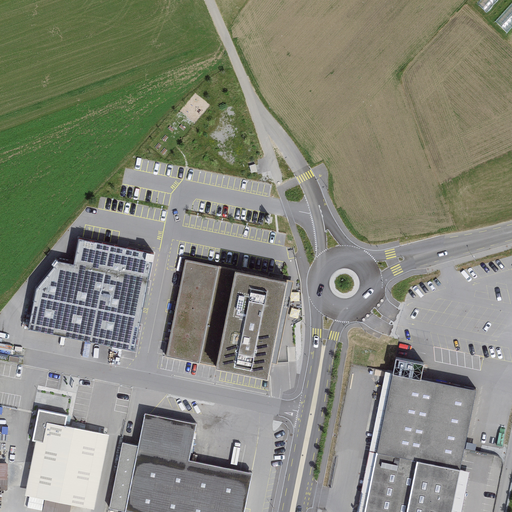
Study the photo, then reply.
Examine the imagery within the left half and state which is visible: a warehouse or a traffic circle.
warehouse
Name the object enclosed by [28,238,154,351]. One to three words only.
warehouse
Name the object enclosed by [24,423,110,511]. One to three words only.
building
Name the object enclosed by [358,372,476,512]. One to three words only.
building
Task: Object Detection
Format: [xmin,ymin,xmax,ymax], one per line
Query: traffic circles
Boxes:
[306,246,382,322]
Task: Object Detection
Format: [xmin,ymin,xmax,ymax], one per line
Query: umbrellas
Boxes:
[290,292,300,302]
[290,308,300,318]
